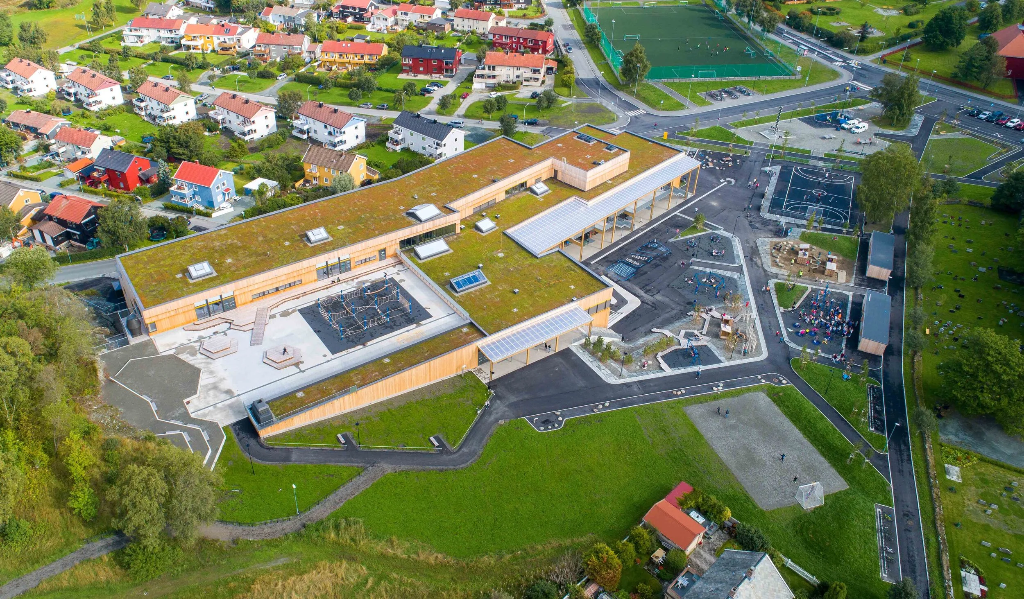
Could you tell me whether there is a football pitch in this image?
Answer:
Yes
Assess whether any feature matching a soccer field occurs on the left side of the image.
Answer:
No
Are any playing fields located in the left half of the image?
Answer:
No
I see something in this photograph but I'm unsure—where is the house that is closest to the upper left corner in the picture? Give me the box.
[2,57,60,99]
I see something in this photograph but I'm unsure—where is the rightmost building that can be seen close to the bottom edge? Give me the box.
[683,549,798,599]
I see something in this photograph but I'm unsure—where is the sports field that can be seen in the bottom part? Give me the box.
[684,391,849,510]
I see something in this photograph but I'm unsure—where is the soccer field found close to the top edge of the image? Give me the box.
[592,5,791,79]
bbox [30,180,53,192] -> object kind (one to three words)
vehicle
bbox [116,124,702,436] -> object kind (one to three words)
building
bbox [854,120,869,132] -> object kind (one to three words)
vehicle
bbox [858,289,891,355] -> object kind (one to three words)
shed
